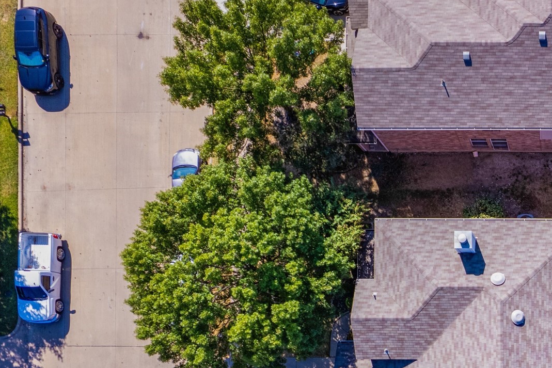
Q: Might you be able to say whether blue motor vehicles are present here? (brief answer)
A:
Yes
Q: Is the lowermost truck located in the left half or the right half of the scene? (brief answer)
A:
left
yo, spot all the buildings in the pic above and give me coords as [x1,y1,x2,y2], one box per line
[342,0,552,153]
[334,217,552,368]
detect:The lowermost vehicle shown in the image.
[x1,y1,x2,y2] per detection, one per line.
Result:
[12,231,65,323]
